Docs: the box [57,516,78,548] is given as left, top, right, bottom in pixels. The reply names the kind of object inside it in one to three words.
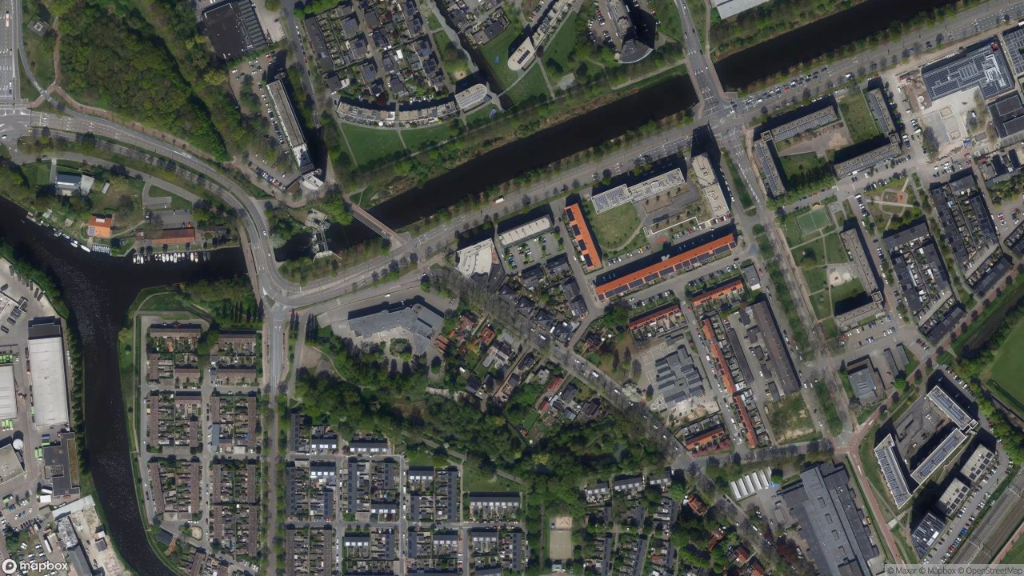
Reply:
shed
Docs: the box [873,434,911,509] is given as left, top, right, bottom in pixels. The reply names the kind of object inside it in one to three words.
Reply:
building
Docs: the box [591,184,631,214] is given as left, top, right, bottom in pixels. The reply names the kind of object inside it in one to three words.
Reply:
building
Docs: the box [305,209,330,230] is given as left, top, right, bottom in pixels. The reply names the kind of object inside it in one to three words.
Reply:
house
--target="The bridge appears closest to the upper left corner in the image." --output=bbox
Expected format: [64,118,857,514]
[238,240,278,281]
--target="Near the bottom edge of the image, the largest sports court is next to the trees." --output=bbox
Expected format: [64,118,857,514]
[549,529,573,560]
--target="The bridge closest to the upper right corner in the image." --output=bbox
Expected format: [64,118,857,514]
[684,54,739,112]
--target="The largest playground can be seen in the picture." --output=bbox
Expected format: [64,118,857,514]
[828,264,853,285]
